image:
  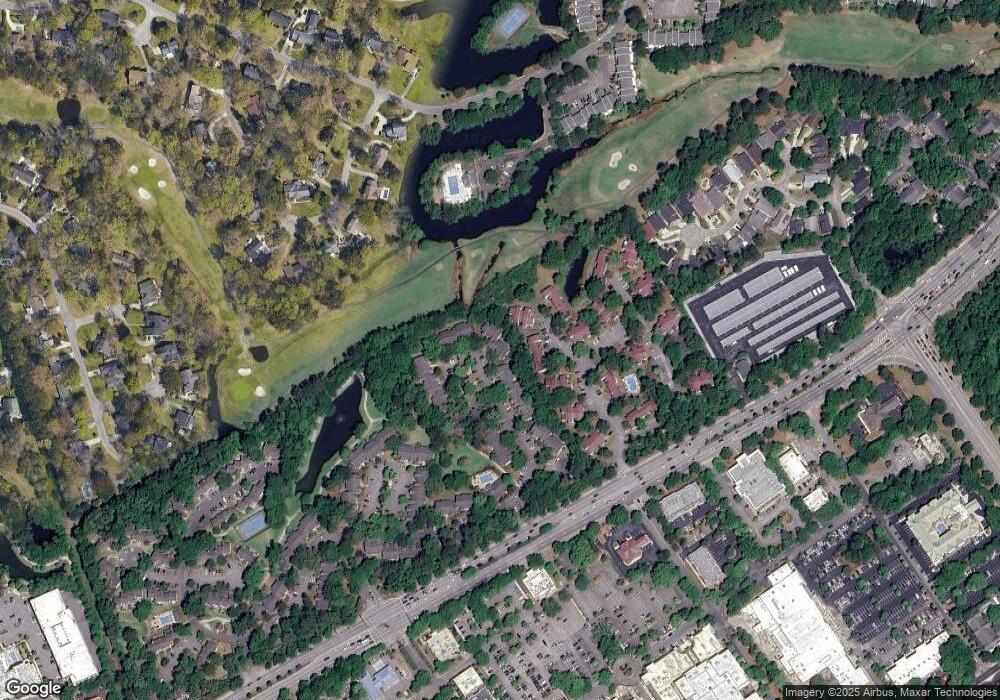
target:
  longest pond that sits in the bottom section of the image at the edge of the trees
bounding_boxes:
[295,374,363,496]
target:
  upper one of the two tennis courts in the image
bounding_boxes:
[496,5,530,40]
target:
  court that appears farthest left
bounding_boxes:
[234,512,270,541]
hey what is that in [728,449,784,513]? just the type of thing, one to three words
building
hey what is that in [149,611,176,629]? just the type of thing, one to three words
swimming pool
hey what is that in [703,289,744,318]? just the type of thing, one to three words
shed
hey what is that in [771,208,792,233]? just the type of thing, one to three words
house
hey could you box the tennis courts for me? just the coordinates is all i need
[496,5,530,40]
[234,512,270,541]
